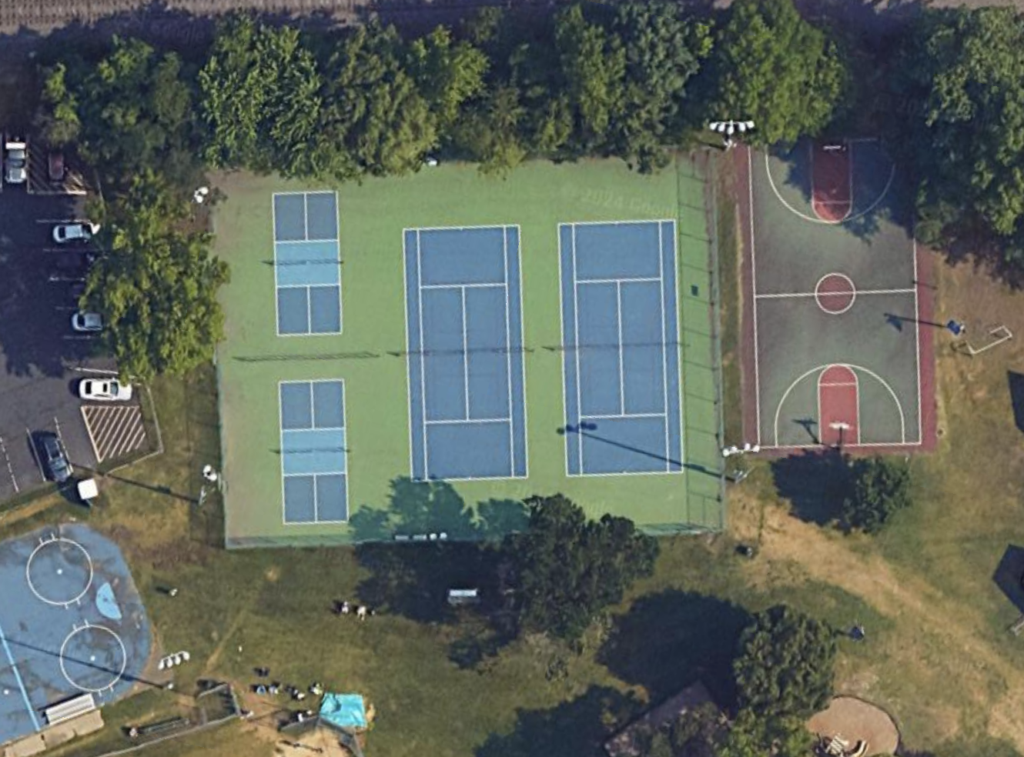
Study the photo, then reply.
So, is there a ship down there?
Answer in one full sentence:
No, I find no ship anywhere in the image.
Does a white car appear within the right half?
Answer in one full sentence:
No, no white car appears within the right half.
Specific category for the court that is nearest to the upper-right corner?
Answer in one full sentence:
Looking closely, the court that is nearest to the upper-right corner is a basketball court.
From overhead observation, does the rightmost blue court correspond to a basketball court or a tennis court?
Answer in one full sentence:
It turns out the rightmost blue court is a tennis court.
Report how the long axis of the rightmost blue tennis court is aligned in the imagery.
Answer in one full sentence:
The rightmost blue tennis court runs vertically in the image.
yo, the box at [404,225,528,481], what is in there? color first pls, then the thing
blue tennis court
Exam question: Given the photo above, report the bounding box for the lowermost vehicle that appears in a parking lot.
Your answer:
[40,431,72,485]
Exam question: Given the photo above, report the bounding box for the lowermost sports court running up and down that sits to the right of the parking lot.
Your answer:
[279,380,349,524]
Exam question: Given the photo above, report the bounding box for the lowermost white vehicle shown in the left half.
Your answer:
[79,379,132,403]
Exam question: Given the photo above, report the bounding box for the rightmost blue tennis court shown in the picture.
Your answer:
[559,220,684,475]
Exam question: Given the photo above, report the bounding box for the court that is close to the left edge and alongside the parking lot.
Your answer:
[0,525,151,745]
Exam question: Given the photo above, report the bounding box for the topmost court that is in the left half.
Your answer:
[272,191,342,335]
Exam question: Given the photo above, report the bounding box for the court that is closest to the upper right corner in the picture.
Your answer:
[734,129,939,459]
